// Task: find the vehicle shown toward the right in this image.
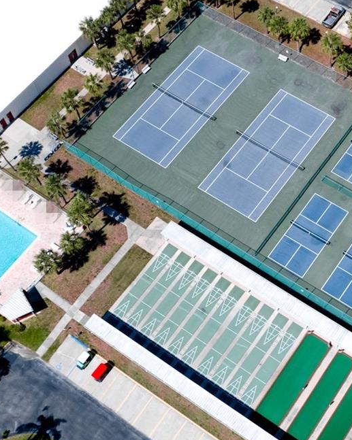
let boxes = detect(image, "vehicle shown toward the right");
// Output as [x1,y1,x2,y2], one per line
[319,4,345,28]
